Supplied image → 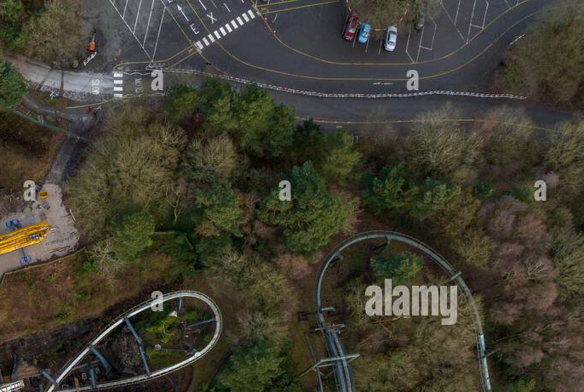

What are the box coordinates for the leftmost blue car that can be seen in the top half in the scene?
[356,22,371,44]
